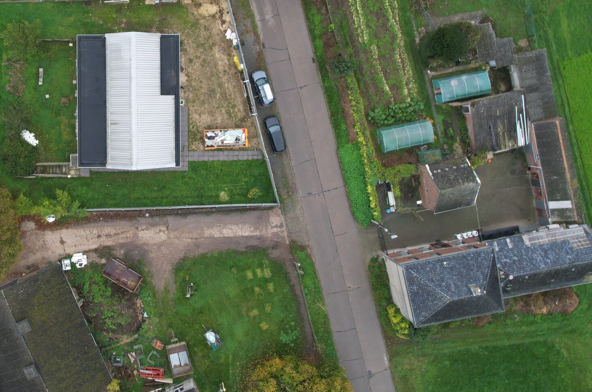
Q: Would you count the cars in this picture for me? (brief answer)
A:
2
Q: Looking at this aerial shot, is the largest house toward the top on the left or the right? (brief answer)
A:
left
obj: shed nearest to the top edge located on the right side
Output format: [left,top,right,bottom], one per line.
[469,23,515,66]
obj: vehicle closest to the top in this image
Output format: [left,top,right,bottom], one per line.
[252,69,275,107]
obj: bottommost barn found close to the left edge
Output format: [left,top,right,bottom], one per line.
[0,258,120,392]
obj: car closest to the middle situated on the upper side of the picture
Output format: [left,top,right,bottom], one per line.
[265,116,288,153]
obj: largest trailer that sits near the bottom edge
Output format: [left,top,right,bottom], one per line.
[168,338,193,380]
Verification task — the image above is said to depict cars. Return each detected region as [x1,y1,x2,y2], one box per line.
[265,116,288,153]
[252,69,275,107]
